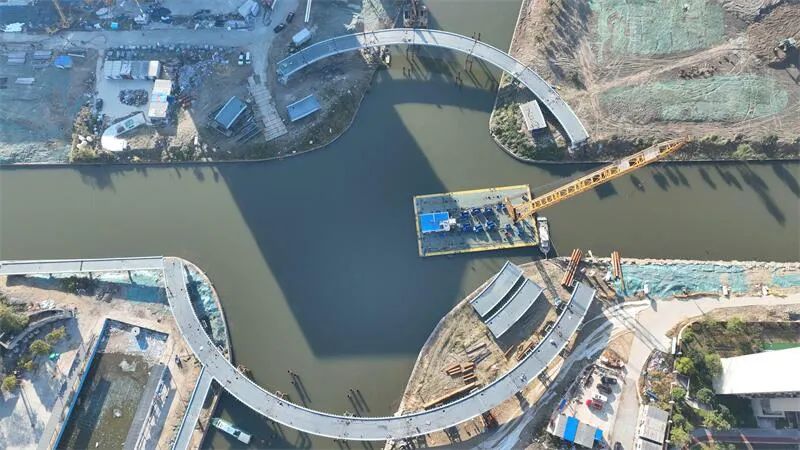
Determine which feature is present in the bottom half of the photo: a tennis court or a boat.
boat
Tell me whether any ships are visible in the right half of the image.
Yes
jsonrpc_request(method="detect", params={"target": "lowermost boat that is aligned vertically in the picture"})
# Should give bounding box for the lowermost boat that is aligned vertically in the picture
[536,217,551,257]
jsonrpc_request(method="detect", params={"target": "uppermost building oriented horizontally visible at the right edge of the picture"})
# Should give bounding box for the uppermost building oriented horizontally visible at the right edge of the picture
[698,343,800,395]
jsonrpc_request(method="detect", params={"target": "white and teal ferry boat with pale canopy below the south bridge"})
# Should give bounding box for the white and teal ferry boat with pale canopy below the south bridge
[212,420,253,445]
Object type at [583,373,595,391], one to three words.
vehicle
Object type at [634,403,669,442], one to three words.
shed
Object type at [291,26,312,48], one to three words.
truck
